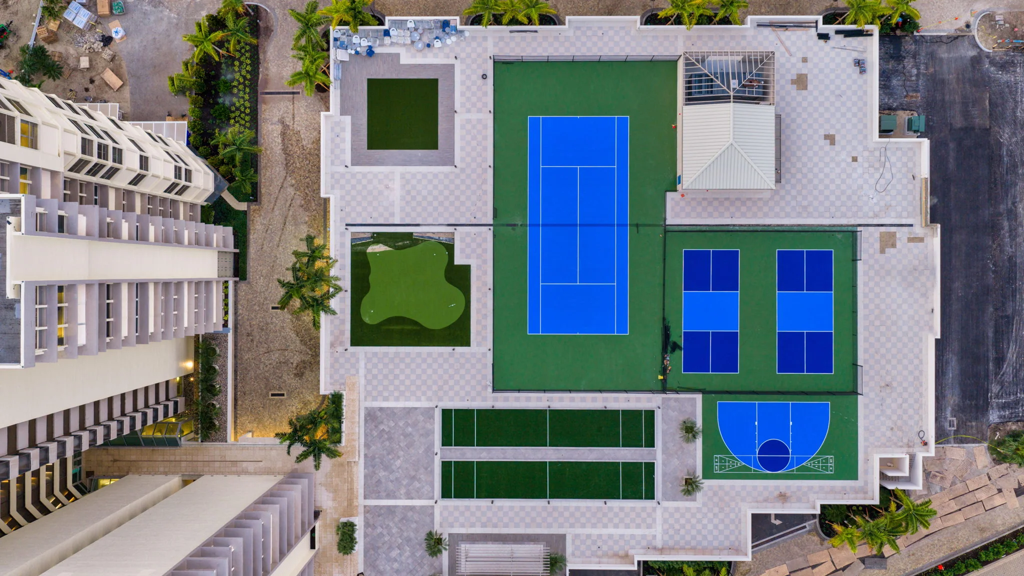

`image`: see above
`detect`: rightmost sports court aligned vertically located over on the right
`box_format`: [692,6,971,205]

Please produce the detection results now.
[777,250,834,374]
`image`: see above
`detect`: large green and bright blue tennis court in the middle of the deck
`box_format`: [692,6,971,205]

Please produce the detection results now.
[493,61,677,392]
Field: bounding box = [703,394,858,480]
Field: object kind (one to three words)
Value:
basketball court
